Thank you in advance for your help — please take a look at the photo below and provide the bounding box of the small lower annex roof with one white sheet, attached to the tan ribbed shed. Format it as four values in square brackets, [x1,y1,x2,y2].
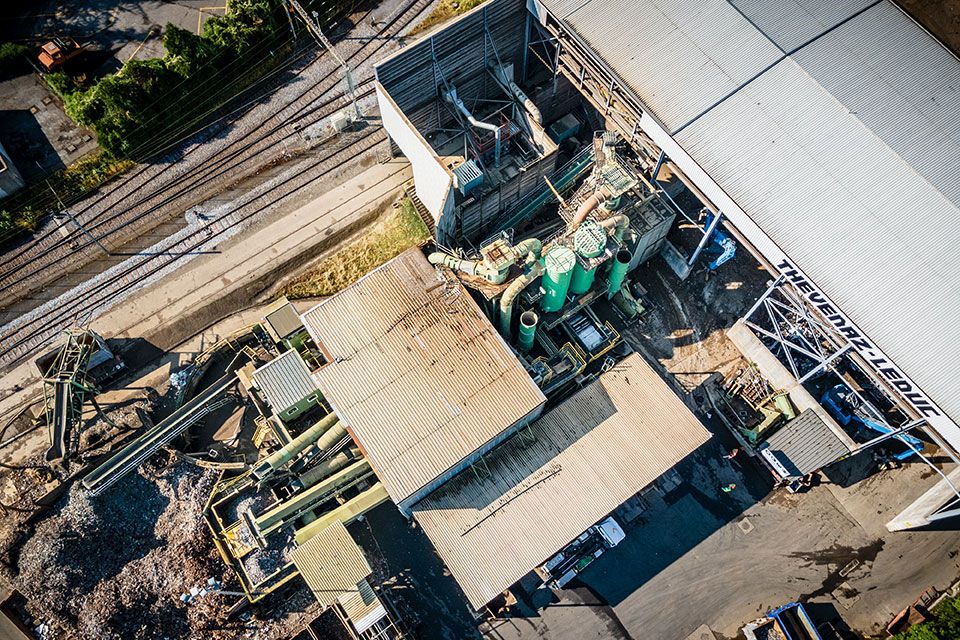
[337,577,392,634]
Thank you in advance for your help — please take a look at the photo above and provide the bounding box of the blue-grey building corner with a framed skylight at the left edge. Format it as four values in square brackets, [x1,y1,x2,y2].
[0,125,44,231]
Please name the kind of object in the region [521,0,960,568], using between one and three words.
building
